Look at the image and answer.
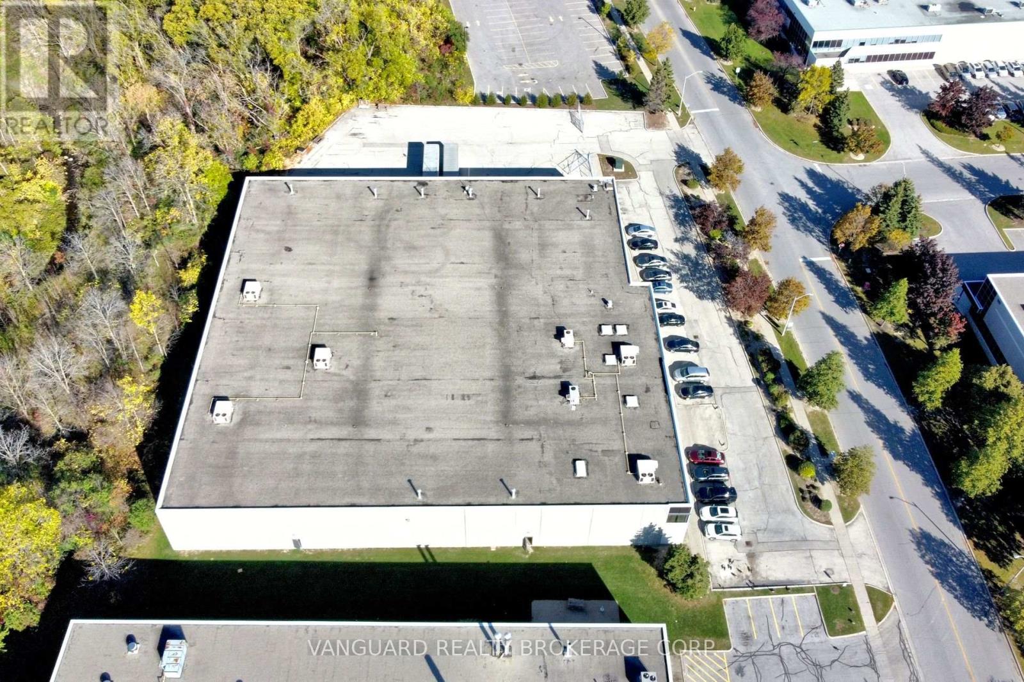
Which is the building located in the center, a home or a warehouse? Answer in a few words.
warehouse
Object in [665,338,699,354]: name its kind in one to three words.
car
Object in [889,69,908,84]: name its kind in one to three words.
car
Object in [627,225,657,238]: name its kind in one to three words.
vehicle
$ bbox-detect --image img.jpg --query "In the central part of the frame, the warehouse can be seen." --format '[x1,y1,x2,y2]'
[155,177,694,554]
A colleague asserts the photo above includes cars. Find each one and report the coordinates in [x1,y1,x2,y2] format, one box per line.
[699,503,739,523]
[673,365,709,382]
[981,61,998,76]
[692,464,731,483]
[629,237,658,251]
[704,521,743,541]
[889,69,908,84]
[688,448,726,465]
[642,268,673,282]
[1005,58,1024,75]
[968,62,986,77]
[697,483,737,503]
[656,299,680,313]
[635,253,666,268]
[954,62,972,78]
[936,63,955,80]
[644,281,676,295]
[992,60,1010,75]
[627,225,657,238]
[665,338,699,354]
[678,383,714,399]
[658,311,688,328]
